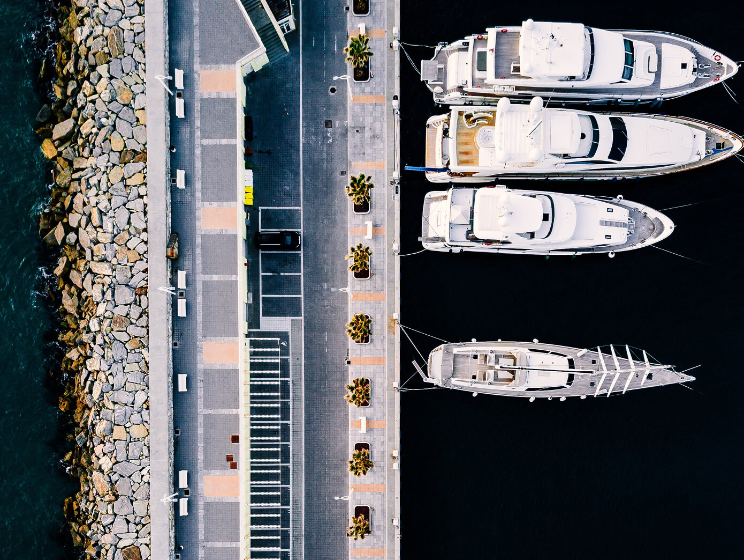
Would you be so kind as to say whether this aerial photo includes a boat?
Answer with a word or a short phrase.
Yes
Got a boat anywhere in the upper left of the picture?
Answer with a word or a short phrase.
No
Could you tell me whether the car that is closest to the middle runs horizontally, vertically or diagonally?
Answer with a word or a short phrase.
horizontally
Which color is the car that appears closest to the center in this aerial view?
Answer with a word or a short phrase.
black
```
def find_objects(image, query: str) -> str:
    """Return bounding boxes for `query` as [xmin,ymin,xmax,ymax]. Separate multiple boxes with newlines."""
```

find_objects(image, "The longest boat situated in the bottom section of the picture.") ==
[427,342,696,397]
